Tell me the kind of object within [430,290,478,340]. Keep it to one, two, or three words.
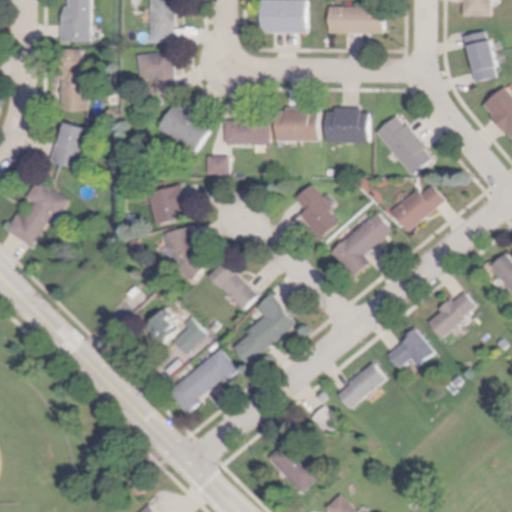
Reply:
house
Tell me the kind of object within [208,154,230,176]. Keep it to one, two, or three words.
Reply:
building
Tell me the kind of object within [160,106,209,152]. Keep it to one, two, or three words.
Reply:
house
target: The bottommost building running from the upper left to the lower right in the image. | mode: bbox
[270,449,316,493]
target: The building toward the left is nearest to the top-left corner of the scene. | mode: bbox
[62,0,93,43]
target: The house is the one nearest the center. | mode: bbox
[210,264,256,310]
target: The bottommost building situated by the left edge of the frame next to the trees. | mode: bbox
[10,184,70,250]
